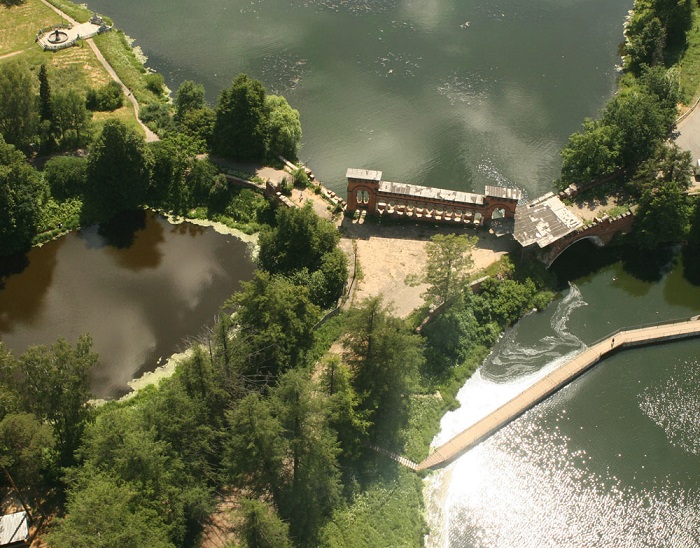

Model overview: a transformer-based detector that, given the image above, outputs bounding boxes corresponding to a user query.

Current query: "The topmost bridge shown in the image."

[504,176,644,268]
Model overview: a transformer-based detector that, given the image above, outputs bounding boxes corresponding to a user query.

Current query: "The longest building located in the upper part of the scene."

[345,167,523,230]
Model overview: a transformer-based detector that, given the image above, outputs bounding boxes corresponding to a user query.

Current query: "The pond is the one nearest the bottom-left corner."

[0,210,249,409]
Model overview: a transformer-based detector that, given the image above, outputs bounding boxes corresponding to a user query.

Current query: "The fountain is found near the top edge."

[46,26,68,44]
